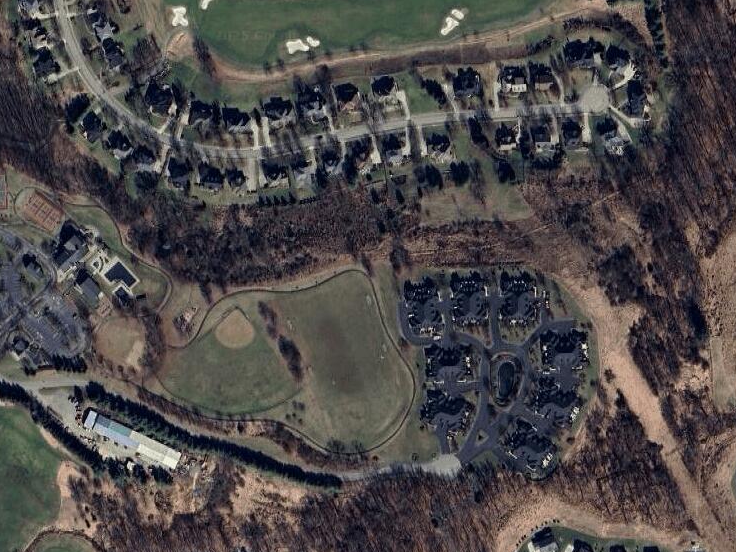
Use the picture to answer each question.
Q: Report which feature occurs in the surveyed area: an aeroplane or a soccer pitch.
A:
soccer pitch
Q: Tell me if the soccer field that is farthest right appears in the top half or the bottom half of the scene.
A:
bottom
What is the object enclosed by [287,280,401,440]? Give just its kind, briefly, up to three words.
soccer field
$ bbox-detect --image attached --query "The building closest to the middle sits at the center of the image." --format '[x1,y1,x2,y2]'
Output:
[405,291,449,330]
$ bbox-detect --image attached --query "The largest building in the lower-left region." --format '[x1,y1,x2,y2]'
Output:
[97,412,184,465]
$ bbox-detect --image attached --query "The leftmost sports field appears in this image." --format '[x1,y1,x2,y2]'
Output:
[92,318,147,367]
